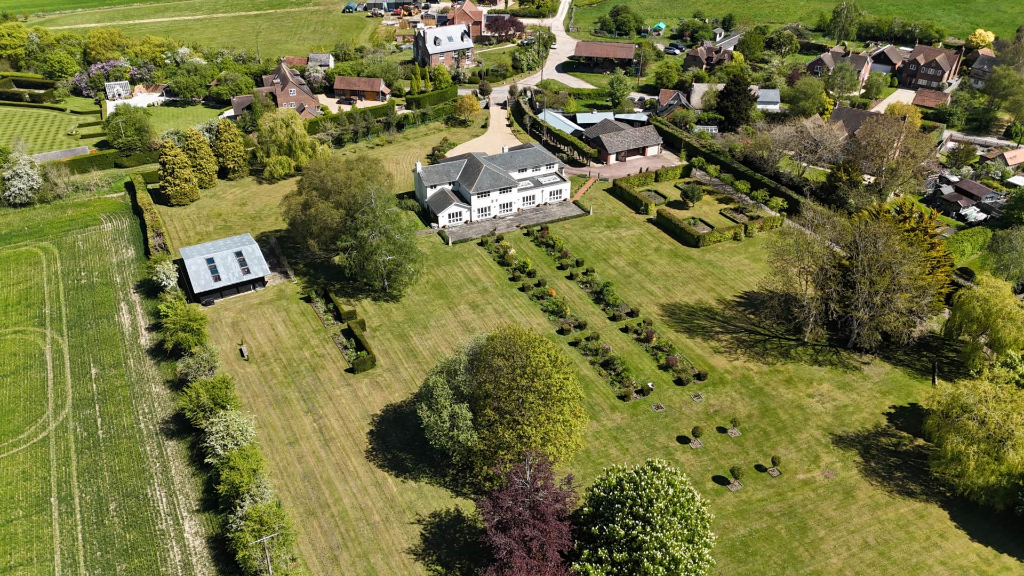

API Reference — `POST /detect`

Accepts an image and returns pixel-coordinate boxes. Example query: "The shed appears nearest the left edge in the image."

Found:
[30,142,89,170]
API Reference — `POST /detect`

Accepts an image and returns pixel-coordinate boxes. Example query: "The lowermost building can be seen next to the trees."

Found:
[176,233,272,304]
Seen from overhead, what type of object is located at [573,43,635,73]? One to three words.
barn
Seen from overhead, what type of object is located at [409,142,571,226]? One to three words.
house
